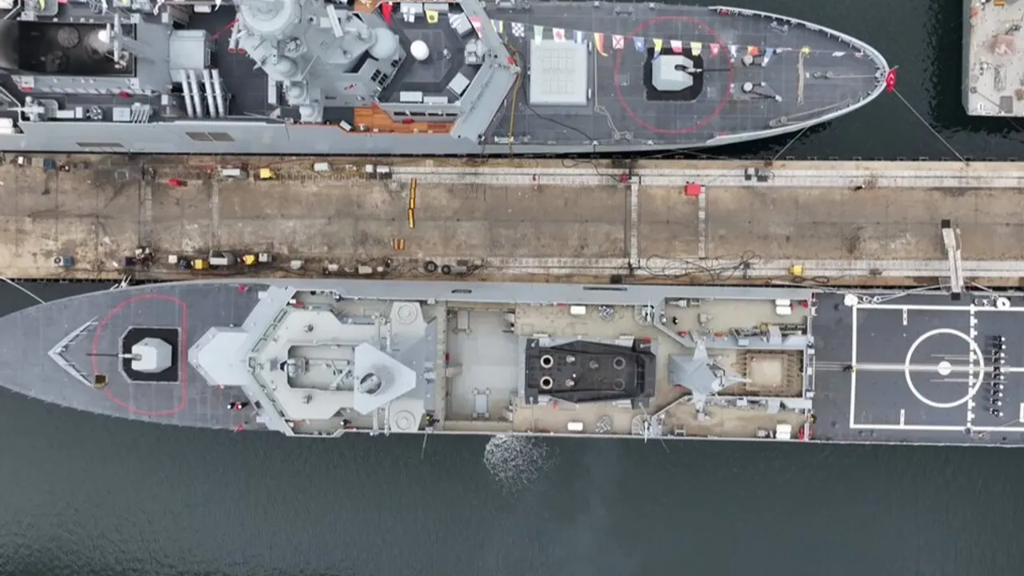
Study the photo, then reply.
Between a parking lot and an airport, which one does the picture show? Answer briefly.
parking lot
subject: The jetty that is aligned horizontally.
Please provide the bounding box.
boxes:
[0,151,1024,291]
